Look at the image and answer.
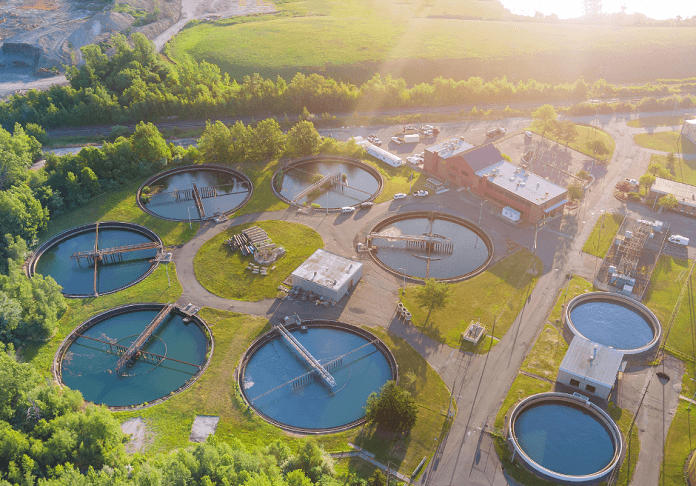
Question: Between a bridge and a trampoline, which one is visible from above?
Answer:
bridge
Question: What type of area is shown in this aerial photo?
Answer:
industrial area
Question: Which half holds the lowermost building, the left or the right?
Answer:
right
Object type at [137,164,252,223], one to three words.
storage tank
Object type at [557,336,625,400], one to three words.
building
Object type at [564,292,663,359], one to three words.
storage tank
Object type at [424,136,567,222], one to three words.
building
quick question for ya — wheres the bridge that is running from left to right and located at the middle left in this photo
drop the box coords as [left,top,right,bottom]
[70,237,164,263]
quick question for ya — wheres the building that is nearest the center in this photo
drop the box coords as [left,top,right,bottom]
[292,249,362,307]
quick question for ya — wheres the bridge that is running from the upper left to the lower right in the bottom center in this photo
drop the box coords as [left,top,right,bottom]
[276,319,334,387]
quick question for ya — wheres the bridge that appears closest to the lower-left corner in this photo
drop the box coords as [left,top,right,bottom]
[111,299,179,375]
